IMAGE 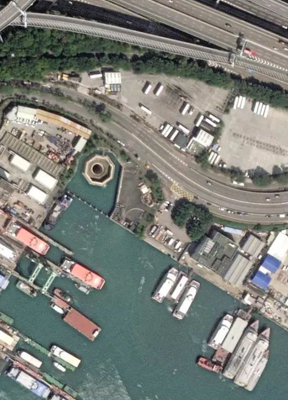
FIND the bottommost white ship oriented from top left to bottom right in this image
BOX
[6,366,52,398]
